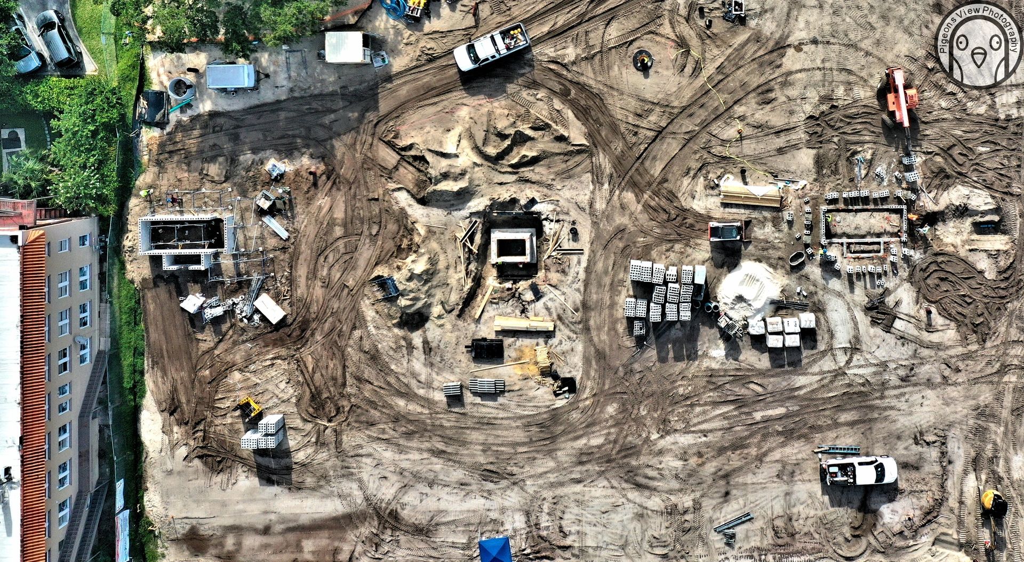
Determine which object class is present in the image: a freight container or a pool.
freight container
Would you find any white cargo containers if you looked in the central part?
No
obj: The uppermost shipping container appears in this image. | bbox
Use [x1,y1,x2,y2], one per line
[325,32,383,64]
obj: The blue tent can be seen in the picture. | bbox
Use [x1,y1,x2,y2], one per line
[478,524,519,562]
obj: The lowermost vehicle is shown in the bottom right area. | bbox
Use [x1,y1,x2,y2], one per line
[979,490,1009,540]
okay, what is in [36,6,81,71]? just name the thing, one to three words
car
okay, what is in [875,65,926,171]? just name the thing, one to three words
work vehicle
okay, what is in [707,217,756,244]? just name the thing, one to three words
work vehicle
